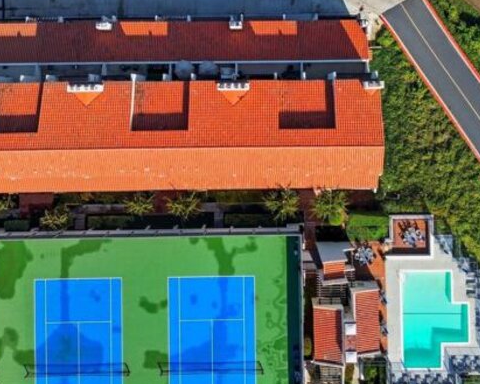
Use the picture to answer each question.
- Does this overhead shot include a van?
No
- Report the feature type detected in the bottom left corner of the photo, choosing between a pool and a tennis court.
tennis court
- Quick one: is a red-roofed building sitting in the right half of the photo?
Yes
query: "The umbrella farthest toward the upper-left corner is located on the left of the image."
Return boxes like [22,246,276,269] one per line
[173,63,195,80]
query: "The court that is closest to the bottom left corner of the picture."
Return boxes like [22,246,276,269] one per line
[0,240,145,384]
